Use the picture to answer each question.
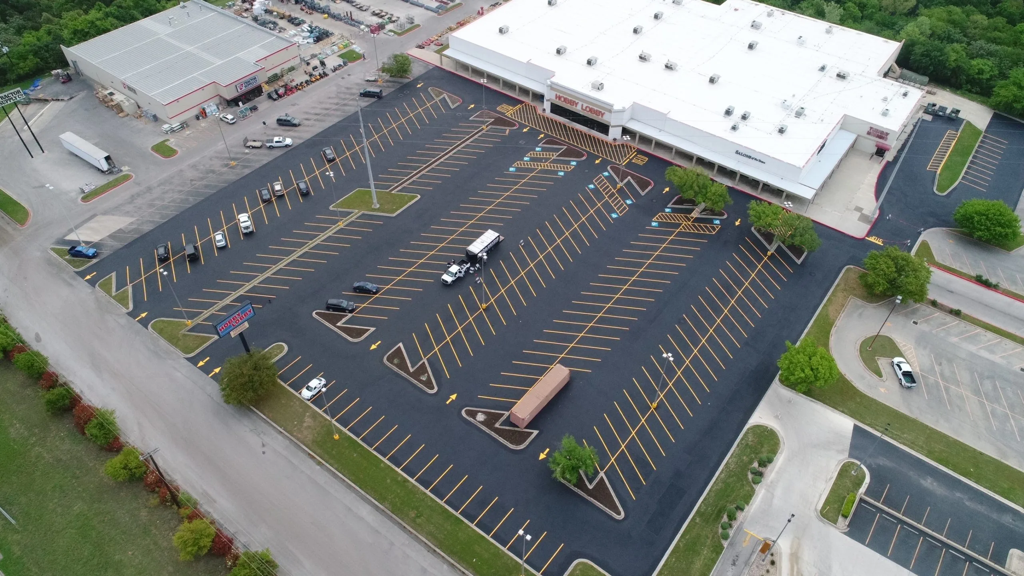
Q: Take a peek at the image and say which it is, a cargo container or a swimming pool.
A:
cargo container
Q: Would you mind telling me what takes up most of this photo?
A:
paved ground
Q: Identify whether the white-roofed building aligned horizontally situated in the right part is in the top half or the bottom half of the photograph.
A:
top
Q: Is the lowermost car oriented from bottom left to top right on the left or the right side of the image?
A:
left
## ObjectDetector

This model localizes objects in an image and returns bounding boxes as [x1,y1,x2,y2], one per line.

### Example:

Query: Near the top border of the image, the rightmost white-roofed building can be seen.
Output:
[442,0,928,202]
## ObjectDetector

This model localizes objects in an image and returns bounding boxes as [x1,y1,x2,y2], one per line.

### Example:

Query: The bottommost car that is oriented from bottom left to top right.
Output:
[300,375,328,399]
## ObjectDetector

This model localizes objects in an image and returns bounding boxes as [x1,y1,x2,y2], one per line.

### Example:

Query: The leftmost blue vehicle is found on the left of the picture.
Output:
[64,244,99,259]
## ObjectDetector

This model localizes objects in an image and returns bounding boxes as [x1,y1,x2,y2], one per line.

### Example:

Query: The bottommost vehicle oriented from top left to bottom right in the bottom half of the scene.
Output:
[891,355,920,386]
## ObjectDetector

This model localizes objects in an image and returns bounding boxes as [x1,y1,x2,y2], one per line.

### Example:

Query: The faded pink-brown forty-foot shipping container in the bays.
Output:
[510,363,569,429]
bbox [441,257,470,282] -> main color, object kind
white truck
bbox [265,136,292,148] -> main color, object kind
white vehicle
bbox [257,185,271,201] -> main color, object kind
gray car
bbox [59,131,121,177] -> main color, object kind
white trailer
